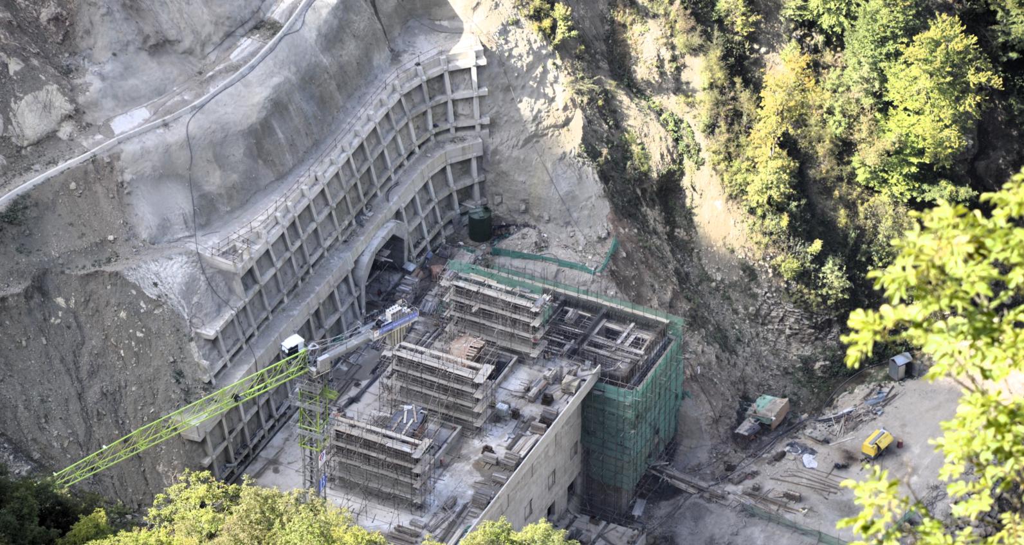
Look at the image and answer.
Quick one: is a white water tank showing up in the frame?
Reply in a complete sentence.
No, I find no white water tank anywhere in the image.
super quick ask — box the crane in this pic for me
[56,303,423,506]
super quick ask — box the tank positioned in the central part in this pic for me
[467,204,492,244]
